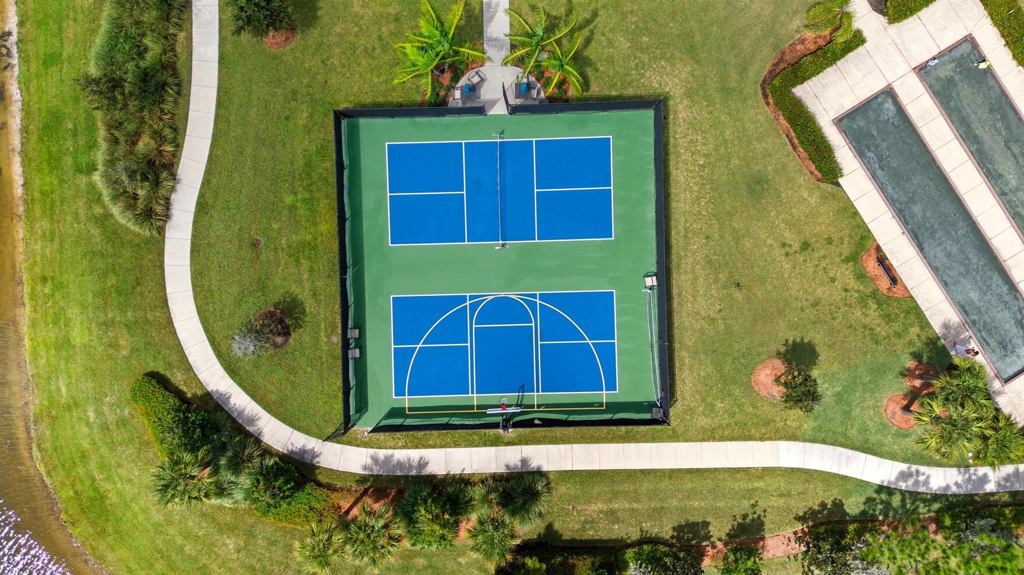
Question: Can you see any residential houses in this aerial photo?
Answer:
No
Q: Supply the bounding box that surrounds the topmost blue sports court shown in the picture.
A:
[386,136,614,246]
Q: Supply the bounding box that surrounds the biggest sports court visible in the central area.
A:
[342,109,662,430]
